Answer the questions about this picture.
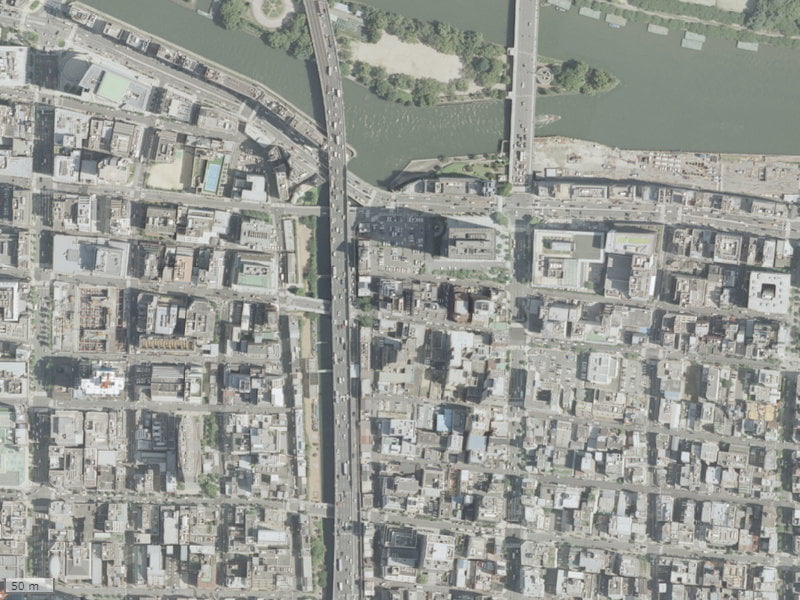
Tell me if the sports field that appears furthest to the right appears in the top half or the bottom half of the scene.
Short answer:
top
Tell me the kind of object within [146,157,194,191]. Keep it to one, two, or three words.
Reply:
sports field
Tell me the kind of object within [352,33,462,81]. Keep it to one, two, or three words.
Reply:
sports field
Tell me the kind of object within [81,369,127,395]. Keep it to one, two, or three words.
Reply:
building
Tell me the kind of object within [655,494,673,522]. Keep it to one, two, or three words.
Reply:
building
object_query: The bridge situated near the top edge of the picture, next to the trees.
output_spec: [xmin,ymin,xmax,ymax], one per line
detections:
[506,0,539,187]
